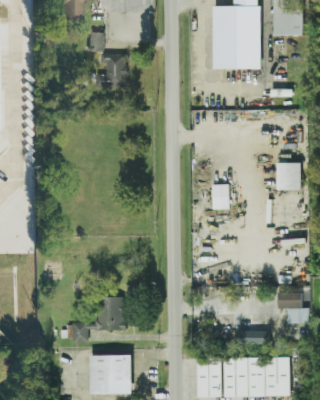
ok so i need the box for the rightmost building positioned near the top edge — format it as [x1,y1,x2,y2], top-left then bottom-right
[274,0,304,37]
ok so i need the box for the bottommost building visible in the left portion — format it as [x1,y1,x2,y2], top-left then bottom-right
[90,356,133,395]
